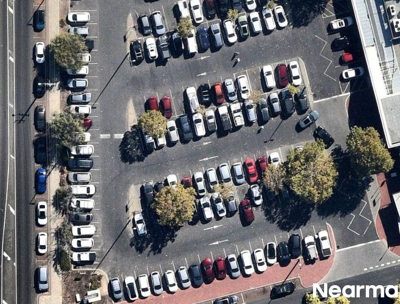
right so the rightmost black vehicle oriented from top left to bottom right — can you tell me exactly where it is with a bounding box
[312,125,333,146]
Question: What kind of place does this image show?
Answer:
parking lot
